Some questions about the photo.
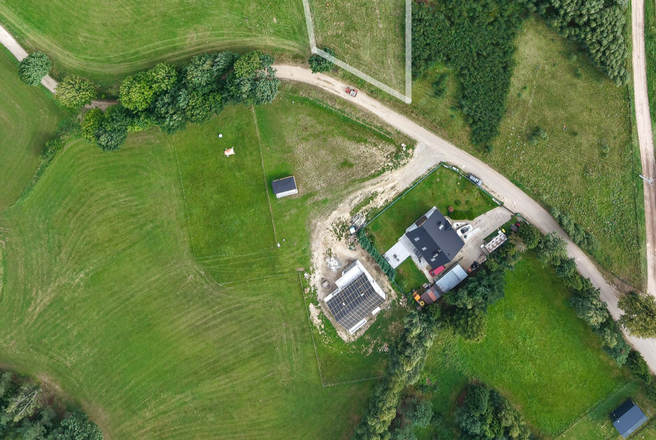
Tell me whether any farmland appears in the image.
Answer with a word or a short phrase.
Yes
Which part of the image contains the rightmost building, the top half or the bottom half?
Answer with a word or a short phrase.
bottom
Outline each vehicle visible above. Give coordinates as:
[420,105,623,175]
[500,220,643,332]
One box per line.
[412,290,420,300]
[456,223,473,237]
[467,173,484,187]
[429,266,445,277]
[346,87,356,97]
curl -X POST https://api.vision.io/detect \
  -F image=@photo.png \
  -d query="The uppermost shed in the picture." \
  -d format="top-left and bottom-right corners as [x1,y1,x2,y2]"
[272,175,298,196]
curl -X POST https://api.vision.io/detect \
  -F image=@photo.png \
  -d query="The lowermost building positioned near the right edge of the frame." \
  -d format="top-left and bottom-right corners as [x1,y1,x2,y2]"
[606,393,649,439]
